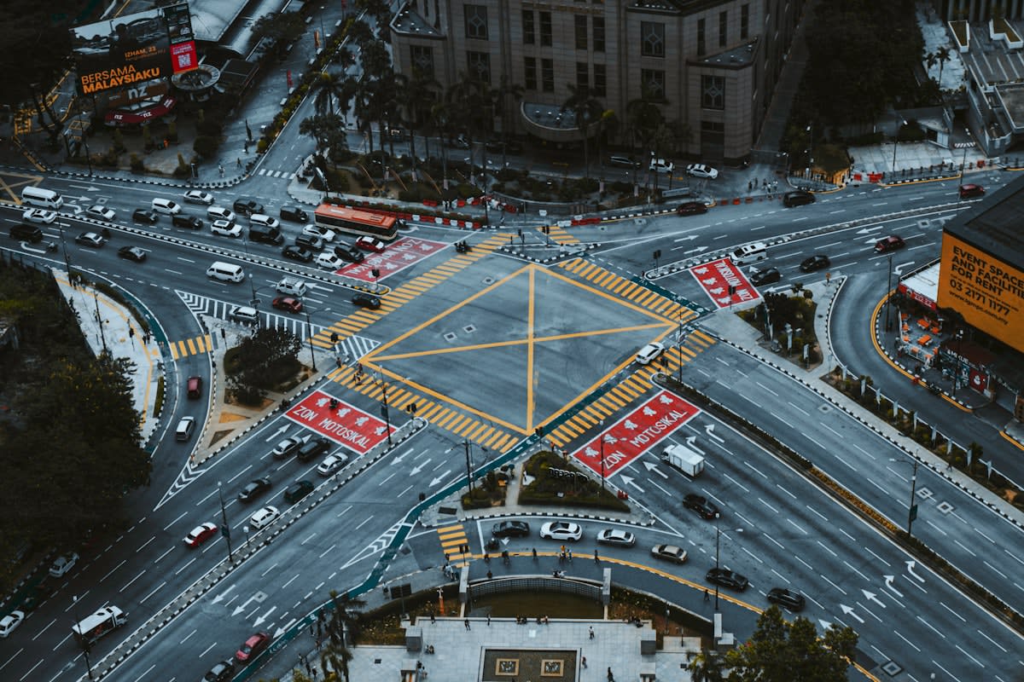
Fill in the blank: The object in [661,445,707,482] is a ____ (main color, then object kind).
white truck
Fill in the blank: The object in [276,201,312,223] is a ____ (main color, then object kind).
black vehicle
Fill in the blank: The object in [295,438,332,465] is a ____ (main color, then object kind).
black car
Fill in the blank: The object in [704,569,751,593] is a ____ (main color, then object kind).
black car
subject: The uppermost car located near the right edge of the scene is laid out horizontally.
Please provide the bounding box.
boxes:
[953,185,989,200]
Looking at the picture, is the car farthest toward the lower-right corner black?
Yes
